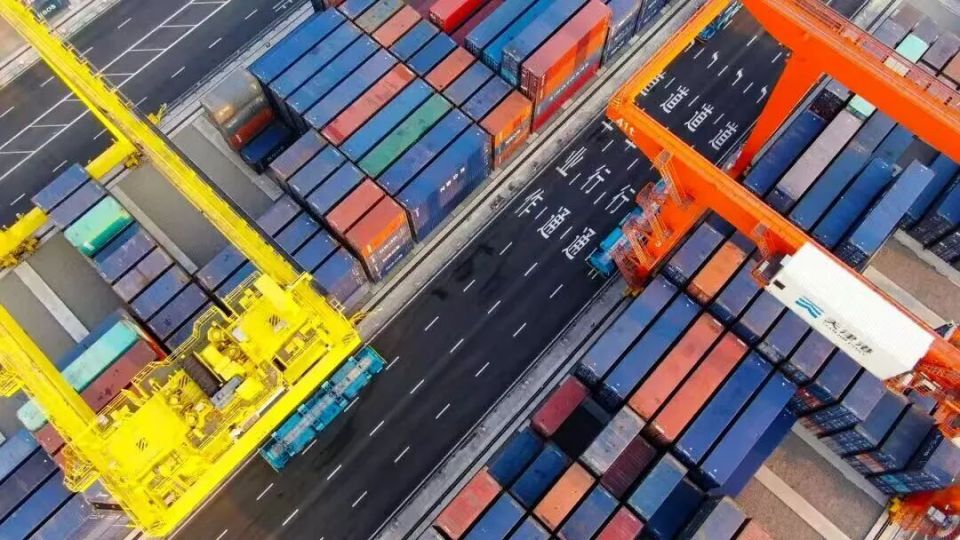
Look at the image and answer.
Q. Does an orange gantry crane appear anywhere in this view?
Yes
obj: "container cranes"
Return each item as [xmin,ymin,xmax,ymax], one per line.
[599,0,960,540]
[0,0,373,540]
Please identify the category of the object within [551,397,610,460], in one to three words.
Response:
shipping container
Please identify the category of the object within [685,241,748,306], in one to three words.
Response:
shipping container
